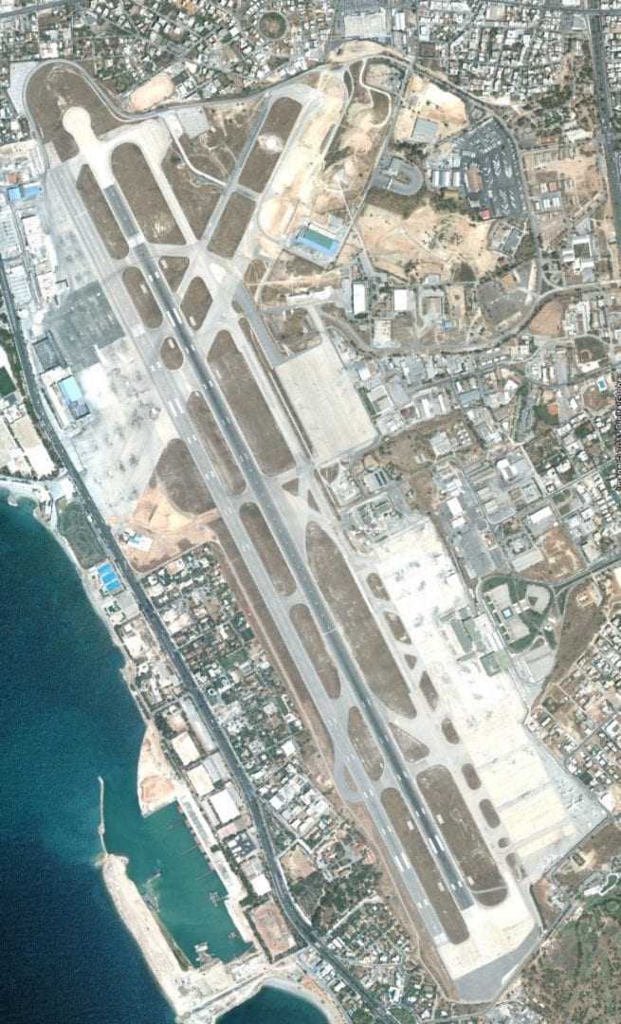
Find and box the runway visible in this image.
[99,176,474,911]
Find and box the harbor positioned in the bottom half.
[99,775,252,1004]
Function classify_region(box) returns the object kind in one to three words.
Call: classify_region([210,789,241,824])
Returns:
building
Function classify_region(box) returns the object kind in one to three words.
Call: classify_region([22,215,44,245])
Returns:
hangar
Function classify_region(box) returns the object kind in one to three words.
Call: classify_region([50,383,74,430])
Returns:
building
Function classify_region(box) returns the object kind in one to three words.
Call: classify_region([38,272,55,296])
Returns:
hangar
